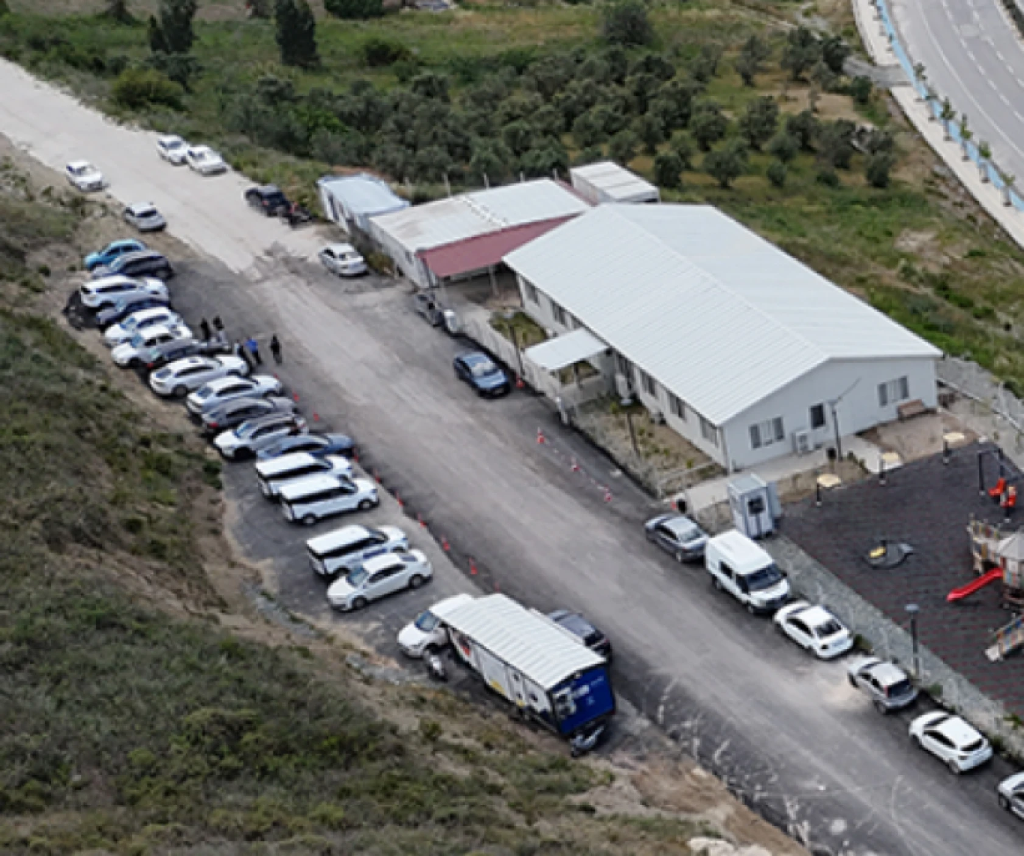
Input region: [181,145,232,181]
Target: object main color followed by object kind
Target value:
white car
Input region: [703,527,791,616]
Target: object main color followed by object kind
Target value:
white van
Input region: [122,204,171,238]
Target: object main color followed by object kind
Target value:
gray car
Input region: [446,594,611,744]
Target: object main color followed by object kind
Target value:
white trailer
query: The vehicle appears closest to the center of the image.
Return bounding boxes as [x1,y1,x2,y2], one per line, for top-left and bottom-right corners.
[448,357,516,403]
